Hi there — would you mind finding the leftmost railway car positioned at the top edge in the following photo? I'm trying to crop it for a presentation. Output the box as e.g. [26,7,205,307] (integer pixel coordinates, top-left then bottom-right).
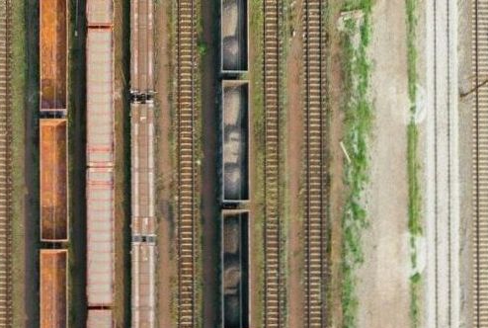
[40,0,67,120]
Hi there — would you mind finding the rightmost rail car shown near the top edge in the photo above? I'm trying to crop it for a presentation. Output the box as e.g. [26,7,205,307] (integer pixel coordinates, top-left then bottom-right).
[217,0,248,83]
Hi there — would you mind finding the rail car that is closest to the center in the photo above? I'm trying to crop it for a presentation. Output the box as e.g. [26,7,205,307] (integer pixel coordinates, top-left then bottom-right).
[218,81,249,209]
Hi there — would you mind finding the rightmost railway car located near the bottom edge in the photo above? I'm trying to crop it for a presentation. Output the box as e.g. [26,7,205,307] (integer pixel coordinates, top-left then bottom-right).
[218,209,249,328]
